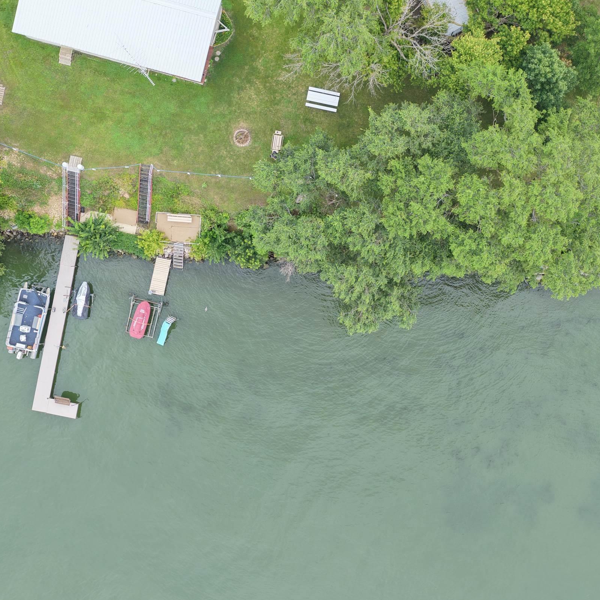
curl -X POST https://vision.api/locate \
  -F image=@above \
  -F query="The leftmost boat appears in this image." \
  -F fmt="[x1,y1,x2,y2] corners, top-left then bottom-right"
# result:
[4,281,53,358]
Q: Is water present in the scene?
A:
Yes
